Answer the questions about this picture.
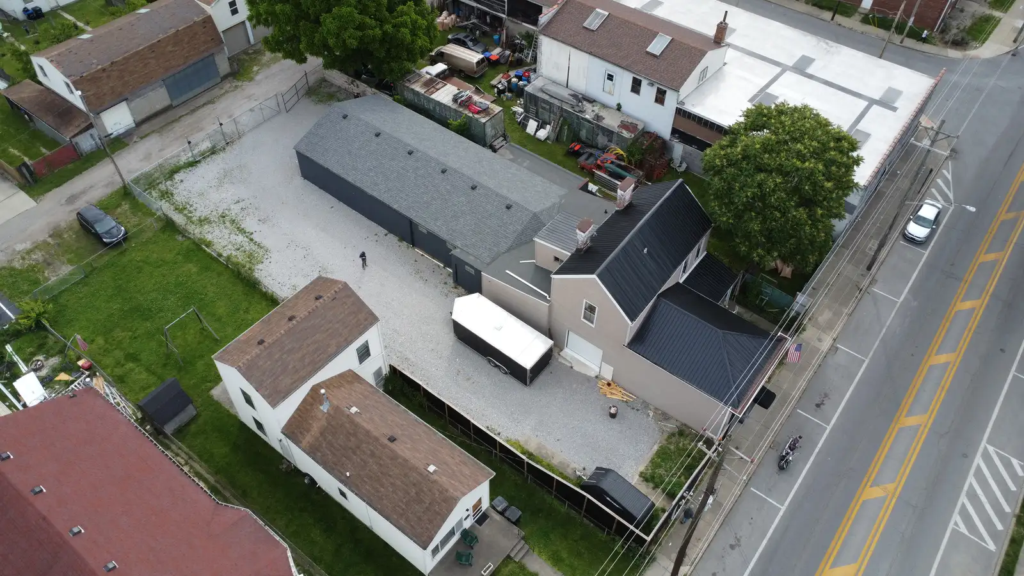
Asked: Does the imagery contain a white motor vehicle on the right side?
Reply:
Yes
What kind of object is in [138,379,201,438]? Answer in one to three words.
shed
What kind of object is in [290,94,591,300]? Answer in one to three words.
building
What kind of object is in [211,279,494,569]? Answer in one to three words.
house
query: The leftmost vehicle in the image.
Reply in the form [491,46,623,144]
[66,196,124,243]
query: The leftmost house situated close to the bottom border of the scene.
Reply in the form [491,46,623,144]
[0,384,301,576]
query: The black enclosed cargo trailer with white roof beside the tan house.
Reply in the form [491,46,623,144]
[445,295,553,386]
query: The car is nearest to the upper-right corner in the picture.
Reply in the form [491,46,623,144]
[905,197,947,243]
